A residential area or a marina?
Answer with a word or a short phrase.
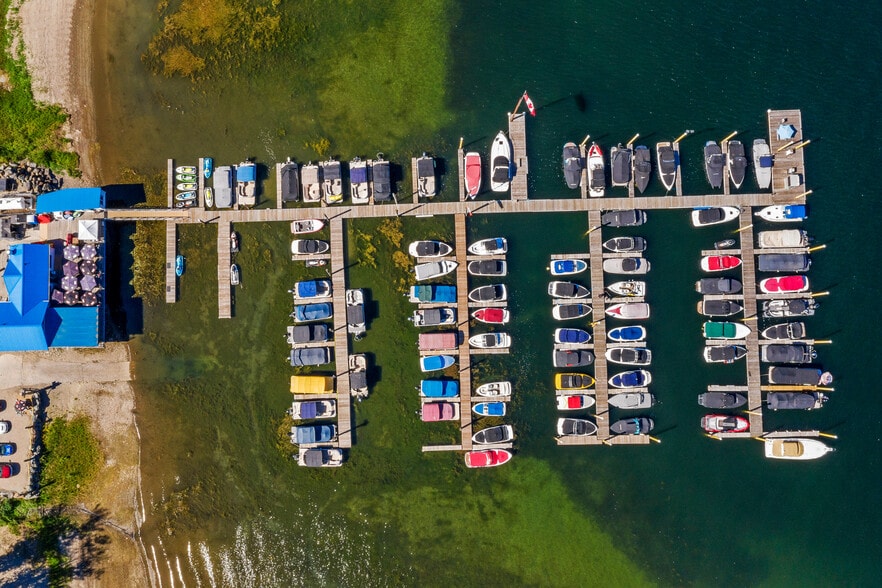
marina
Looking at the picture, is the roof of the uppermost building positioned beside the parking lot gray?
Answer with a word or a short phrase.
No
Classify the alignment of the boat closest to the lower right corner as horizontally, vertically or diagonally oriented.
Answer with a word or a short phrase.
horizontally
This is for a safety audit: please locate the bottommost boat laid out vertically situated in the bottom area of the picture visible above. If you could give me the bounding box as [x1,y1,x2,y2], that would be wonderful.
[349,353,368,400]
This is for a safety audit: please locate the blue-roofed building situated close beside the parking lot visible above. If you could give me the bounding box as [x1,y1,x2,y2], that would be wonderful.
[0,244,100,350]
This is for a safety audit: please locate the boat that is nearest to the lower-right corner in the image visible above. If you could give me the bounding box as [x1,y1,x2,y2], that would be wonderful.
[764,437,836,461]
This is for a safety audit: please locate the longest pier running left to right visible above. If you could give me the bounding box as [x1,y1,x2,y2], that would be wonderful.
[167,114,771,224]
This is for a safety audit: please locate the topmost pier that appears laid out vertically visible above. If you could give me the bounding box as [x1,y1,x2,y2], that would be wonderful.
[768,110,806,205]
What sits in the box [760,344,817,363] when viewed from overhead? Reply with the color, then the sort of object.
gray boat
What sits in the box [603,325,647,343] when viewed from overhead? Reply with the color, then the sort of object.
blue boat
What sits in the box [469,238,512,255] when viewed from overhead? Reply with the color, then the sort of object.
white boat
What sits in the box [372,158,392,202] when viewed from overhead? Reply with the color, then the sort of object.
gray boat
